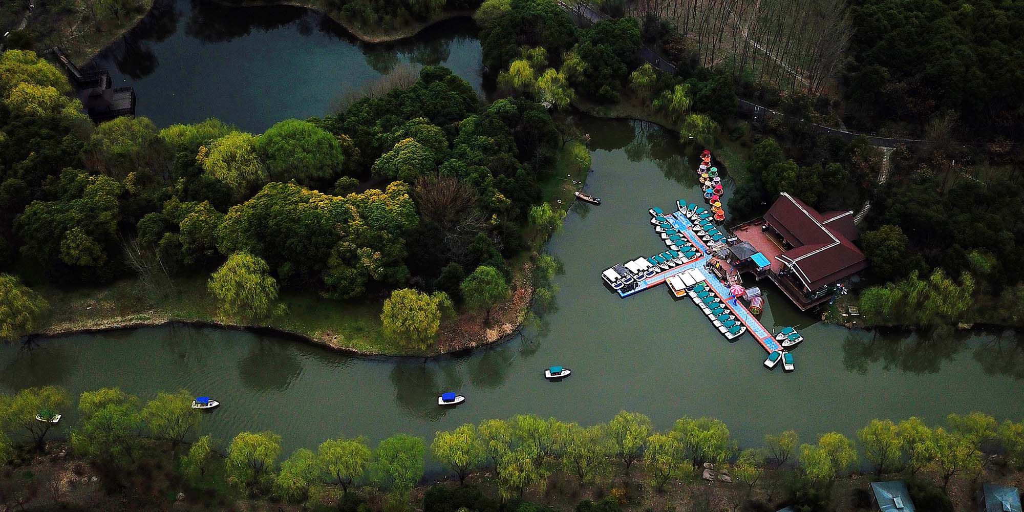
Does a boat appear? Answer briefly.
Yes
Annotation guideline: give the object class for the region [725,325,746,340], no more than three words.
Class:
boat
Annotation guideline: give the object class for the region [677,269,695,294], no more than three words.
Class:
boat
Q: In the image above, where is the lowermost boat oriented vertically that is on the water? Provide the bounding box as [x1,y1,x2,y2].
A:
[782,351,794,374]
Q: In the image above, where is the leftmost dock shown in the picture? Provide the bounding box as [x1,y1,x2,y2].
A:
[616,211,783,354]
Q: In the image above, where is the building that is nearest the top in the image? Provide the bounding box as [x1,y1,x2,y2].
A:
[50,43,135,115]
